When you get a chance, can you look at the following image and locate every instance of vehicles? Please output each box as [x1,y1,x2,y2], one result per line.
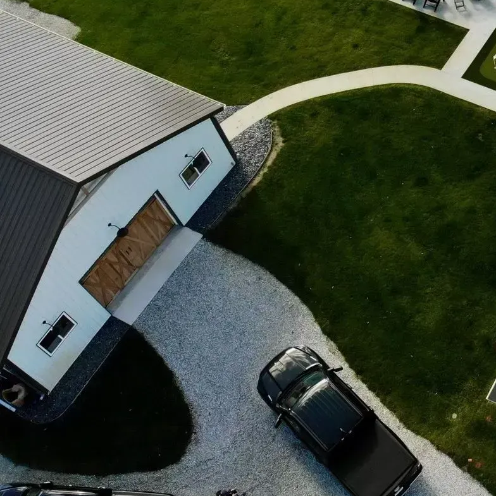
[0,465,191,496]
[257,342,430,496]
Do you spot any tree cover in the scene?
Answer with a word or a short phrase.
No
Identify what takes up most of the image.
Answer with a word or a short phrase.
grass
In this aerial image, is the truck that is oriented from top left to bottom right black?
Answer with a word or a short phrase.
Yes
